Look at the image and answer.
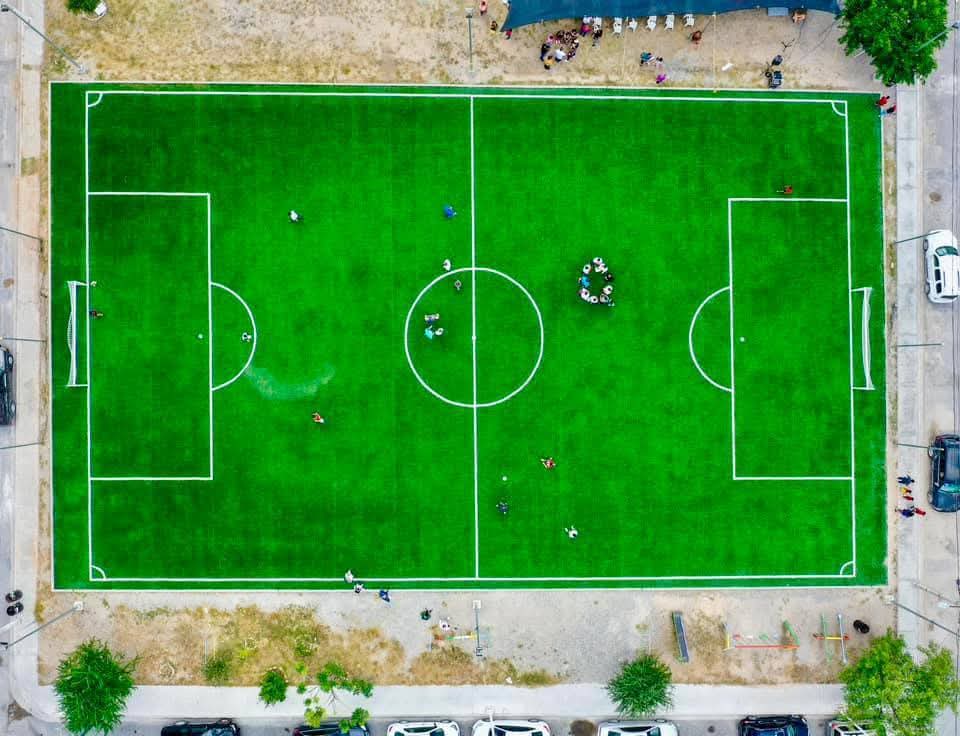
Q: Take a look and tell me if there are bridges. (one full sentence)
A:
No, there's no bridge here.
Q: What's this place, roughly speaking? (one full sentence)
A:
The picture captures a sports ground.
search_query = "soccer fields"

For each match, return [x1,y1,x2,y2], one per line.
[49,82,888,592]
